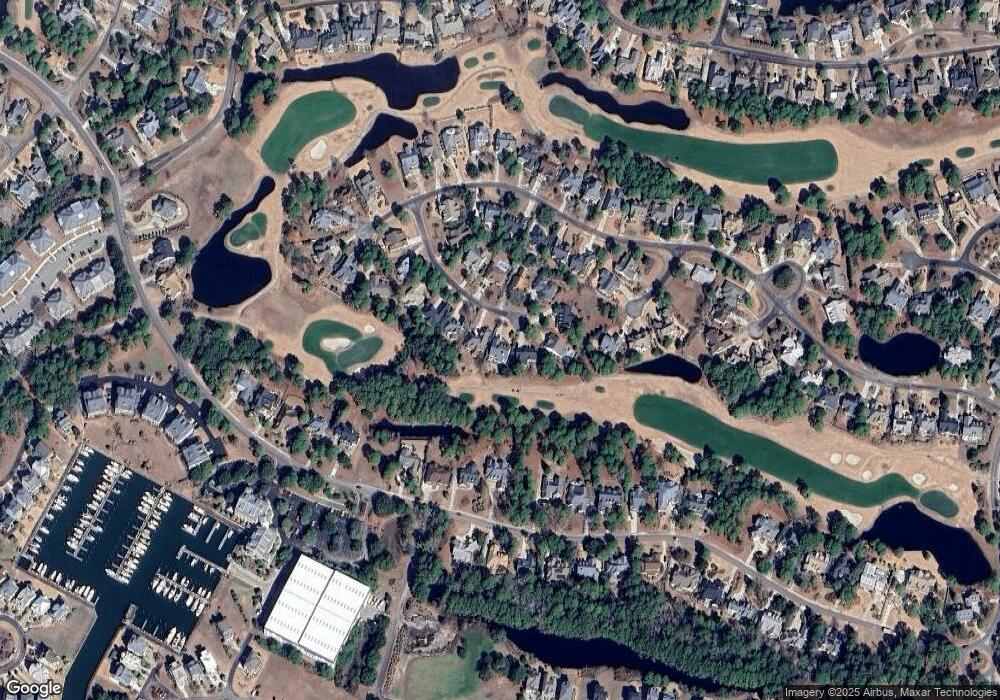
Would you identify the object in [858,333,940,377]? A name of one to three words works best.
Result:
pond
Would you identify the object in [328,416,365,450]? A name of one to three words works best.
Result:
house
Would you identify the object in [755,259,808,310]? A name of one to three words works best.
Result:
roundabout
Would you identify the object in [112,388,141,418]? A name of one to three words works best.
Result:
building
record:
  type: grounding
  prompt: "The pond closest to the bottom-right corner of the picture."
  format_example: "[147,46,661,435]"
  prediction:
[862,502,990,586]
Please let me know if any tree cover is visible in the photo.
Yes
